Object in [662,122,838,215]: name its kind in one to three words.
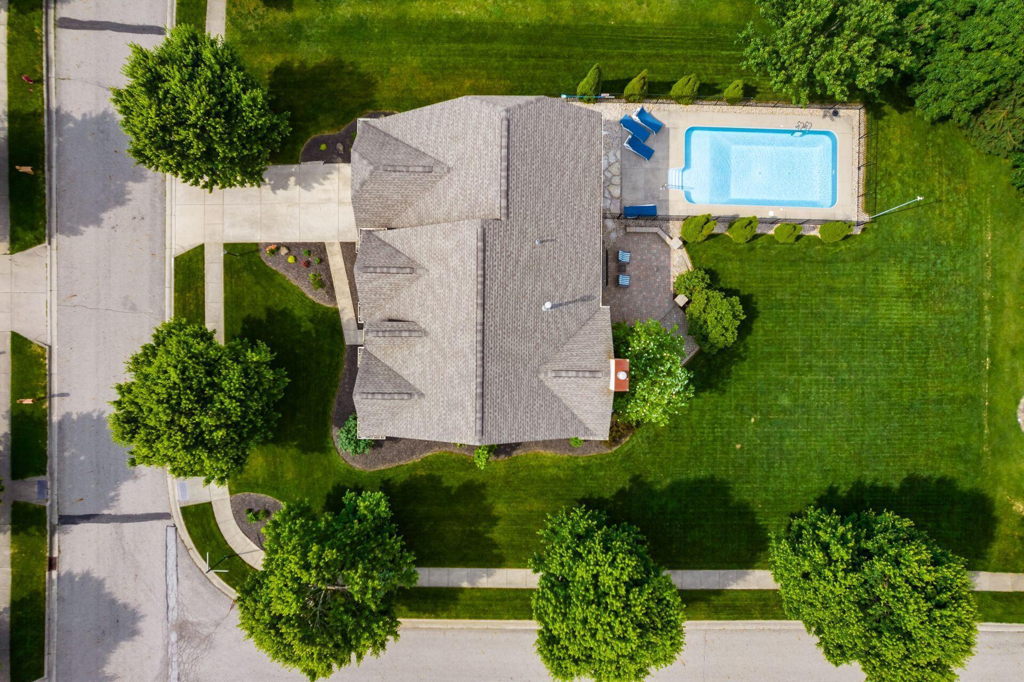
swimming pool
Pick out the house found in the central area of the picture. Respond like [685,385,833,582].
[350,96,629,446]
